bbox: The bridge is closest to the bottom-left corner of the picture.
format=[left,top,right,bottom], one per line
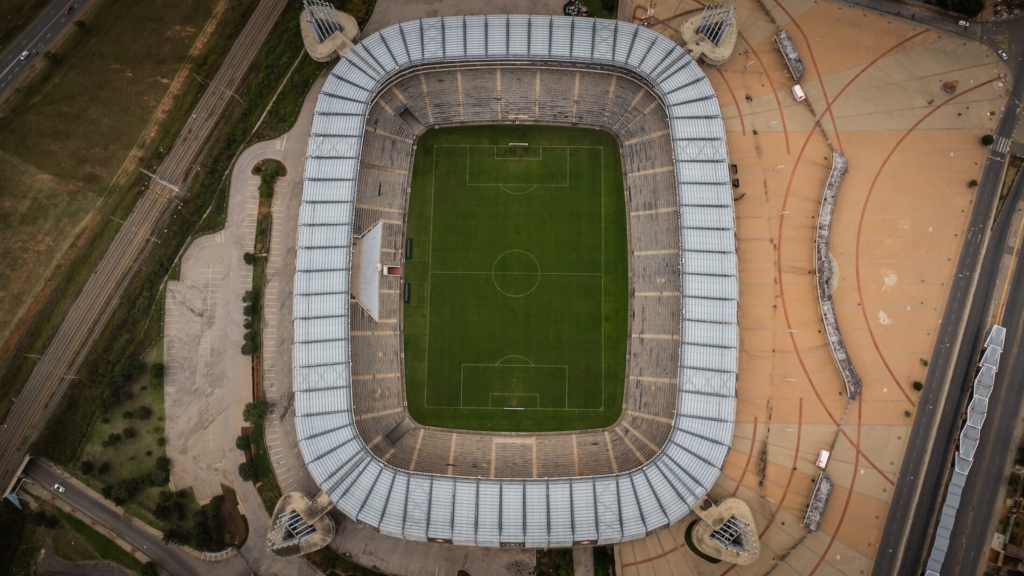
[0,436,44,509]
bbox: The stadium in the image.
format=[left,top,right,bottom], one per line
[290,12,742,548]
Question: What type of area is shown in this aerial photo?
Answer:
sports ground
